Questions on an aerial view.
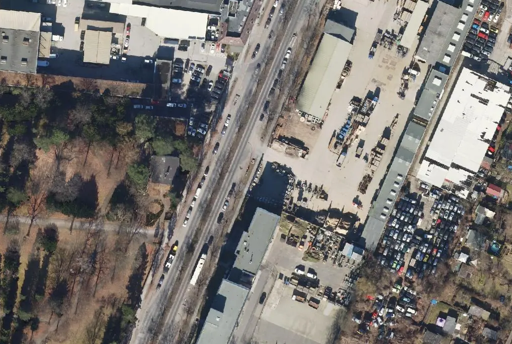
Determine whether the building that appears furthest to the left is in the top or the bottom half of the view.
top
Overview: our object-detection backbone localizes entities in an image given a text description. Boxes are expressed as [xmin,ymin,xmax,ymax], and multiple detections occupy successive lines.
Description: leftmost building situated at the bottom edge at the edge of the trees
[194,278,250,344]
